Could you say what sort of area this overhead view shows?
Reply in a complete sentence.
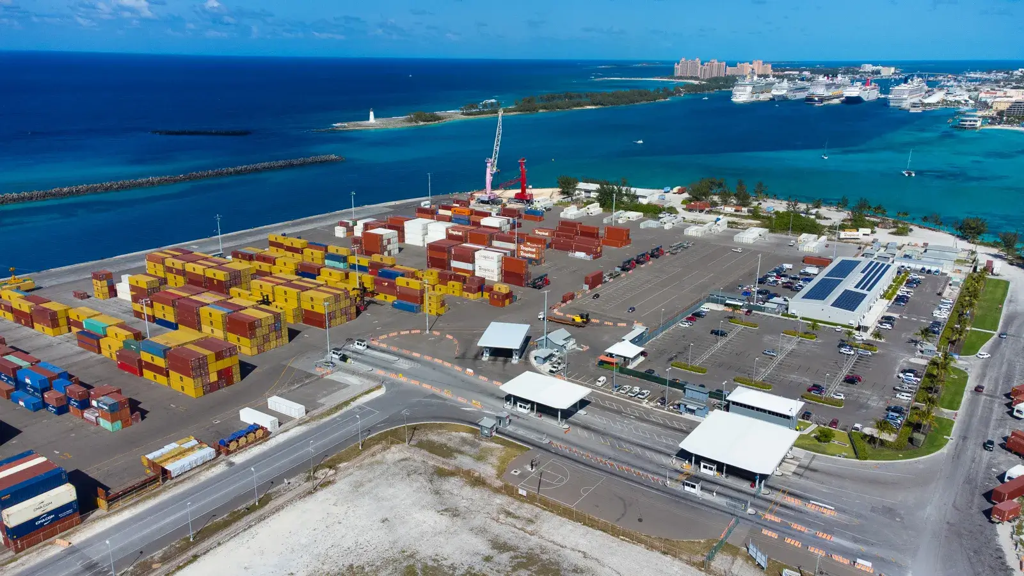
This looks like a port.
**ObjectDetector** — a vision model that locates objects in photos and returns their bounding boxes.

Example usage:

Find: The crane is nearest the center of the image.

[498,156,538,203]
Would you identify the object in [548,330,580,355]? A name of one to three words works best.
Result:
building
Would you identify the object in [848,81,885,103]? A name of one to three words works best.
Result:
ship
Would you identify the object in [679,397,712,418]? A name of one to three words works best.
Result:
shed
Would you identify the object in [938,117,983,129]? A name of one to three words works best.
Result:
house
